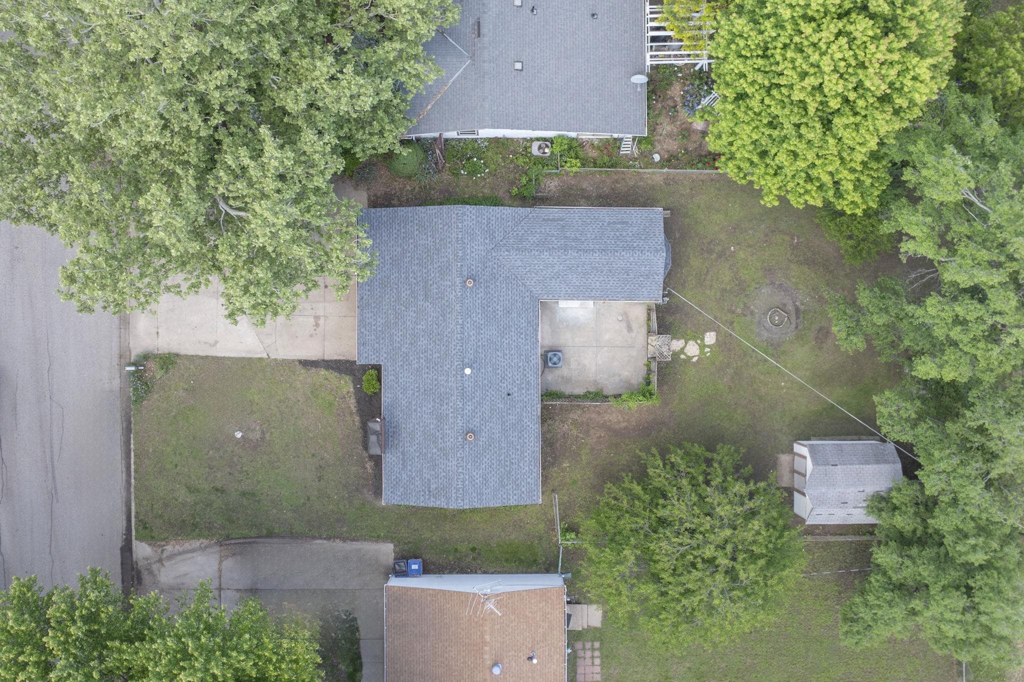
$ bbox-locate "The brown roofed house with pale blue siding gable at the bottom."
[382,573,582,682]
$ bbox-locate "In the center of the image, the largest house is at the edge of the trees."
[355,205,670,508]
